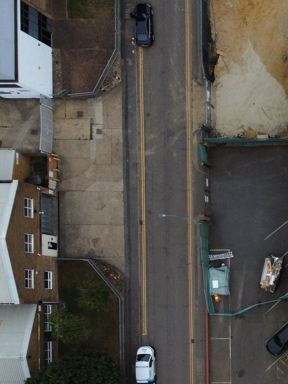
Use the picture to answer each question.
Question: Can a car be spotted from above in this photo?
Yes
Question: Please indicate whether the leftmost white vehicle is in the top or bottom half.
bottom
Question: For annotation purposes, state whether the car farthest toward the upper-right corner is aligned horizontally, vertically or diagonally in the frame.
vertically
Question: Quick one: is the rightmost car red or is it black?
black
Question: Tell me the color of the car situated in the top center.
black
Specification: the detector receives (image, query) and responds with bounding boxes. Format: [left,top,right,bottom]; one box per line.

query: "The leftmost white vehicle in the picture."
[134,346,158,384]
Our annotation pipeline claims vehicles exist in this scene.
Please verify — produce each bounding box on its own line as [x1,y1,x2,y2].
[266,324,288,354]
[134,346,158,384]
[135,3,158,48]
